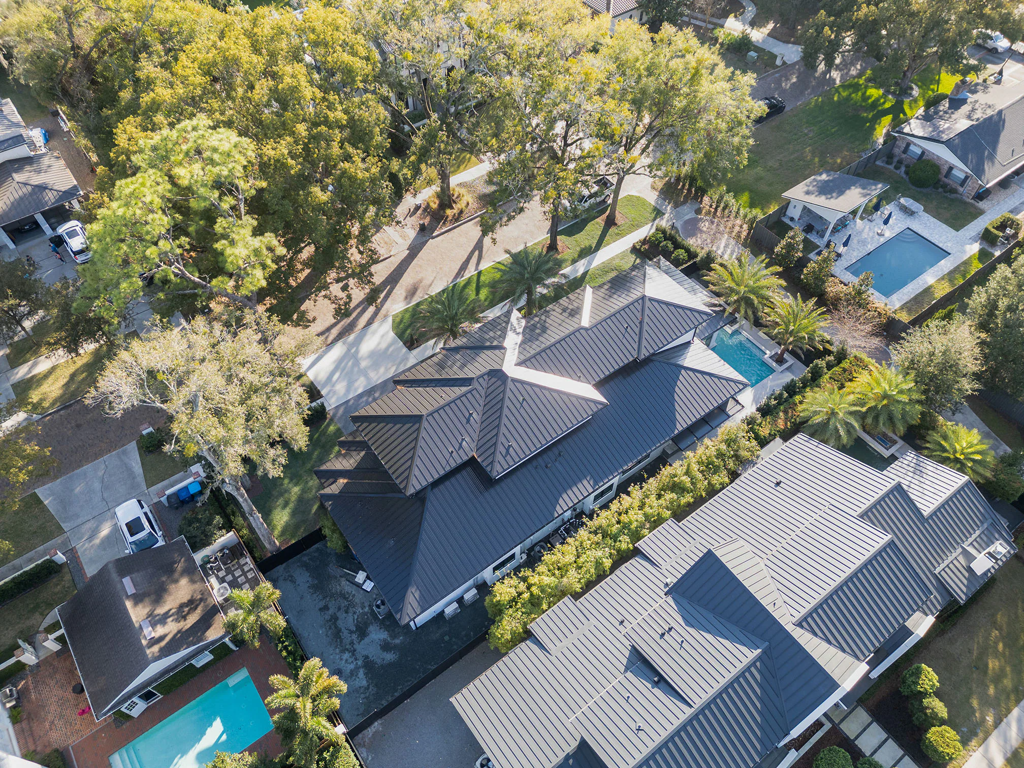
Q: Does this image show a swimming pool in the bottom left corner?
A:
Yes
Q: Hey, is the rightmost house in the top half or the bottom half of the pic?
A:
top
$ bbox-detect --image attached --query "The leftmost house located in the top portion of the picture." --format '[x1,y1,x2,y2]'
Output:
[0,93,87,244]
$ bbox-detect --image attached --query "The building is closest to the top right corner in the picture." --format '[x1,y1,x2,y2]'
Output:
[889,57,1024,200]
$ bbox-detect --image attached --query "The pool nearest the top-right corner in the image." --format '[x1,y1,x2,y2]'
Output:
[844,227,952,297]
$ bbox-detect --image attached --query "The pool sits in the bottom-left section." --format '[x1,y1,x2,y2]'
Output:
[101,661,275,768]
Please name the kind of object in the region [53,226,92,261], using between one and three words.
car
